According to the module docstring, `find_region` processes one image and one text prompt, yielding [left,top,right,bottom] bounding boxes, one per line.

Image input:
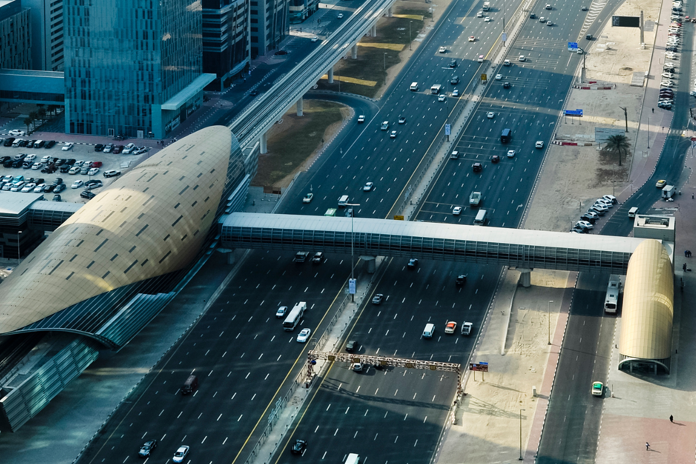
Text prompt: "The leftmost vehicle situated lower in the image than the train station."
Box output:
[138,439,162,454]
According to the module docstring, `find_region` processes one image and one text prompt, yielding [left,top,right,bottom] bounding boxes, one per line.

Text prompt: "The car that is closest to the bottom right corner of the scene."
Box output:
[593,379,607,393]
